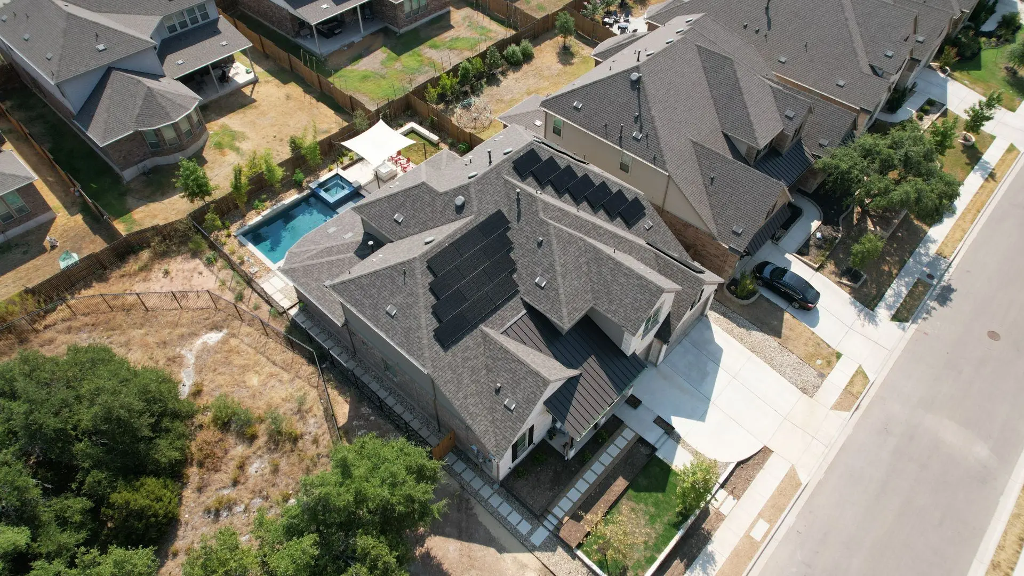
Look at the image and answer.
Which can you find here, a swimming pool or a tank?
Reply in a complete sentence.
The image shows a swimming pool.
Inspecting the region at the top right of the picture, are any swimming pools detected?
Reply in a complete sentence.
No, no swimming pool is visible at the top right of the picture.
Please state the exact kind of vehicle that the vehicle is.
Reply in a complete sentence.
Looking closely, the vehicle is an automobile.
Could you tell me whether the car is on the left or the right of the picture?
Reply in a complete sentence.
The car is on the right side of the image.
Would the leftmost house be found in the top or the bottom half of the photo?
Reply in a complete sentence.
You can find the leftmost house in the top half.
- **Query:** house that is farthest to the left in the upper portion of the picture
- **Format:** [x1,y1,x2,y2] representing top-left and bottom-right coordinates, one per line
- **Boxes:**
[0,149,57,246]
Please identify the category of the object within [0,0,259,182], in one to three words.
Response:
house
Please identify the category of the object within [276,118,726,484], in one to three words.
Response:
house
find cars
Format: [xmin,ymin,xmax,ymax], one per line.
[751,260,828,309]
